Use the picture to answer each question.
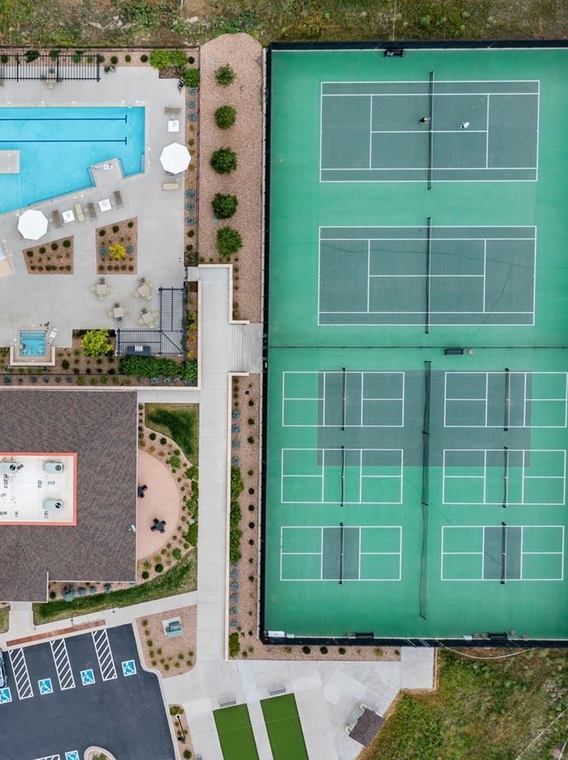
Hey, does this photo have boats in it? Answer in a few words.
No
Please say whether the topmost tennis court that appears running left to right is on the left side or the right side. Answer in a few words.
right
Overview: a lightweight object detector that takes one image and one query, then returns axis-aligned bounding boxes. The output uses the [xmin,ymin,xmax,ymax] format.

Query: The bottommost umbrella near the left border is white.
[18,210,47,239]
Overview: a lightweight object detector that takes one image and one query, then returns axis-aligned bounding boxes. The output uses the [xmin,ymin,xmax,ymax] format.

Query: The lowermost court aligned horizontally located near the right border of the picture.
[441,525,564,581]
